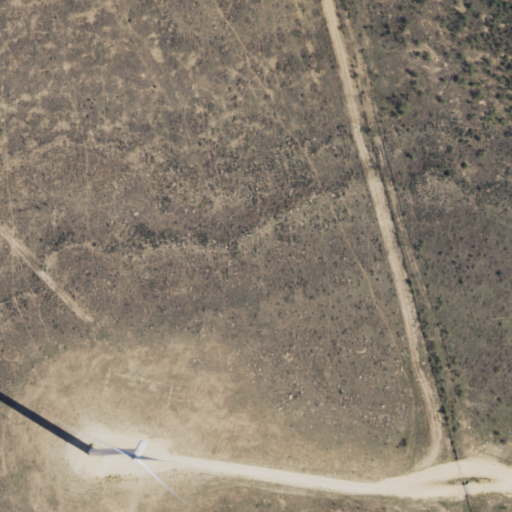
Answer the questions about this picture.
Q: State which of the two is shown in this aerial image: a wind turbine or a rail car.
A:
wind turbine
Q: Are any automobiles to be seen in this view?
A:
No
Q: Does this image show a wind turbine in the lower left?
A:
Yes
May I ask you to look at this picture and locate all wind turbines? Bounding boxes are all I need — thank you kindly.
[45,414,188,498]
